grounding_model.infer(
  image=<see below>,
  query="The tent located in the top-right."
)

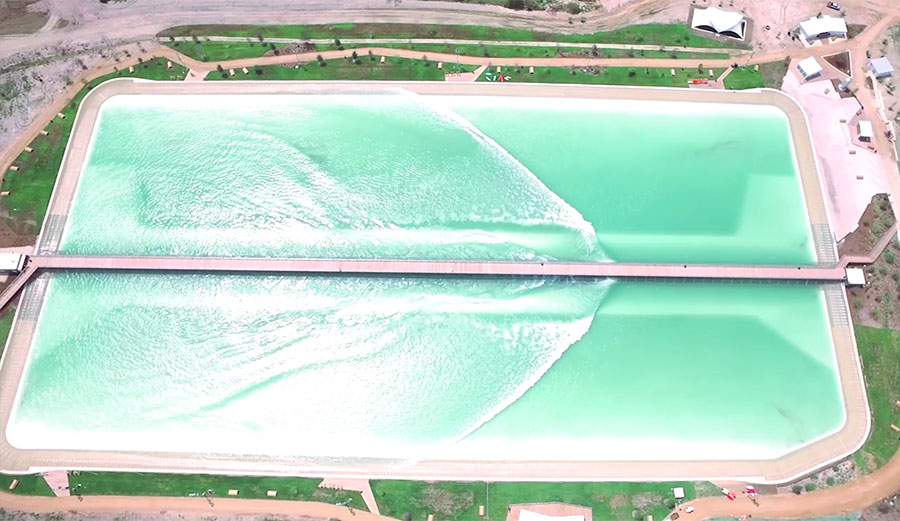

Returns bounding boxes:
[691,11,748,42]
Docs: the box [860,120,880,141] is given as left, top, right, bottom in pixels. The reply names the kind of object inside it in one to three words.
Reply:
shed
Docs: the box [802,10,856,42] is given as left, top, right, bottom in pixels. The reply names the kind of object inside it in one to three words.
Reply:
building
